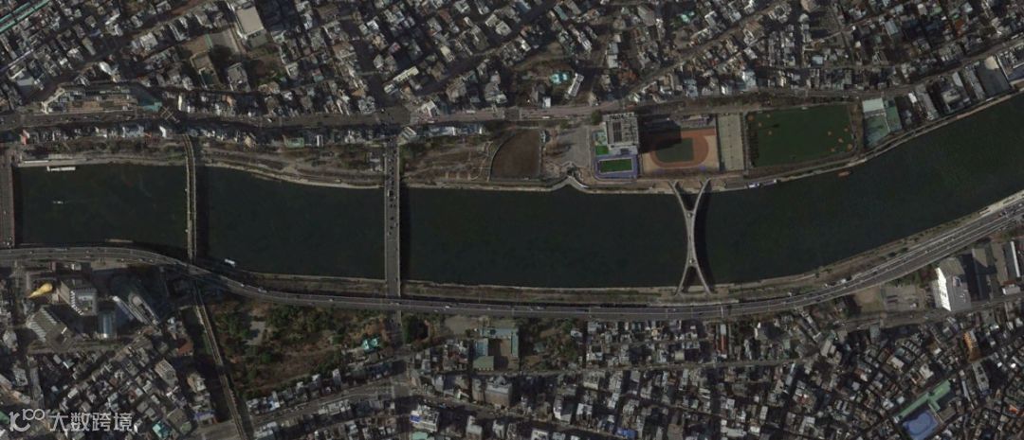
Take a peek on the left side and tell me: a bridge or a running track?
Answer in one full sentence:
Visible on the left side is a bridge.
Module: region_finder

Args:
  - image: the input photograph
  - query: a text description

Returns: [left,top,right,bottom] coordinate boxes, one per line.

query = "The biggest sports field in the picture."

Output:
[492,130,541,179]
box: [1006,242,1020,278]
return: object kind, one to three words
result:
building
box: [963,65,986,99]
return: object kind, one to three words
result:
building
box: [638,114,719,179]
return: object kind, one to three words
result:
running track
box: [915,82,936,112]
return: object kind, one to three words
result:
shed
